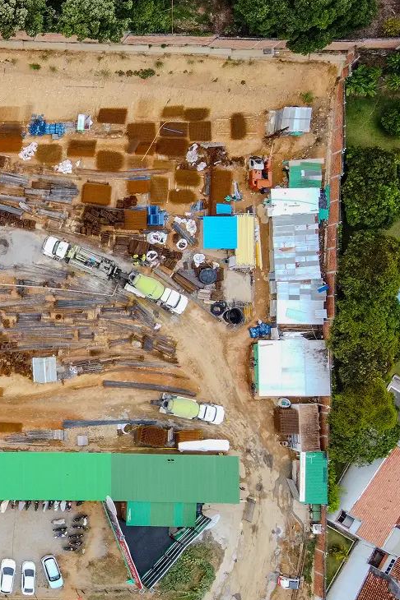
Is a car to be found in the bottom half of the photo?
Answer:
Yes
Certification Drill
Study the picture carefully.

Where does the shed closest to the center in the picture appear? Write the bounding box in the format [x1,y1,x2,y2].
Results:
[195,216,238,250]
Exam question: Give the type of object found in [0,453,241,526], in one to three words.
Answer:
building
